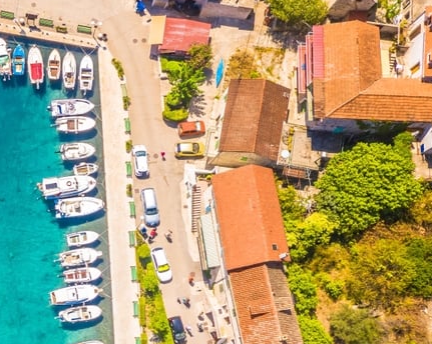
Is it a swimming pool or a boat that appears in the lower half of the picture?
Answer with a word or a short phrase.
boat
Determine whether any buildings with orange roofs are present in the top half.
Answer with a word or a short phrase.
Yes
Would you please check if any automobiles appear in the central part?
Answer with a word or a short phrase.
Yes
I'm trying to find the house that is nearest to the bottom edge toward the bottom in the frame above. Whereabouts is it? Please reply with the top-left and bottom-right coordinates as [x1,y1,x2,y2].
[218,265,302,344]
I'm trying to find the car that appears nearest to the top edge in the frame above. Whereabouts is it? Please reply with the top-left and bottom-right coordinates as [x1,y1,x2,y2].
[177,120,205,139]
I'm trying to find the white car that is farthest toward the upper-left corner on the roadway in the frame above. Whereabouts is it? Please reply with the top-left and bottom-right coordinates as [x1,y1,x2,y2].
[131,144,151,180]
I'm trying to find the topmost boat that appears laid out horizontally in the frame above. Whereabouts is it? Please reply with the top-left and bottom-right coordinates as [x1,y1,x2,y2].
[48,98,100,118]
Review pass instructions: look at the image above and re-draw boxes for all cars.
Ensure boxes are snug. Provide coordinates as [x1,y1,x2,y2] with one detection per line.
[150,245,173,283]
[177,120,205,139]
[131,144,151,180]
[167,313,190,344]
[140,188,161,228]
[174,141,205,159]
